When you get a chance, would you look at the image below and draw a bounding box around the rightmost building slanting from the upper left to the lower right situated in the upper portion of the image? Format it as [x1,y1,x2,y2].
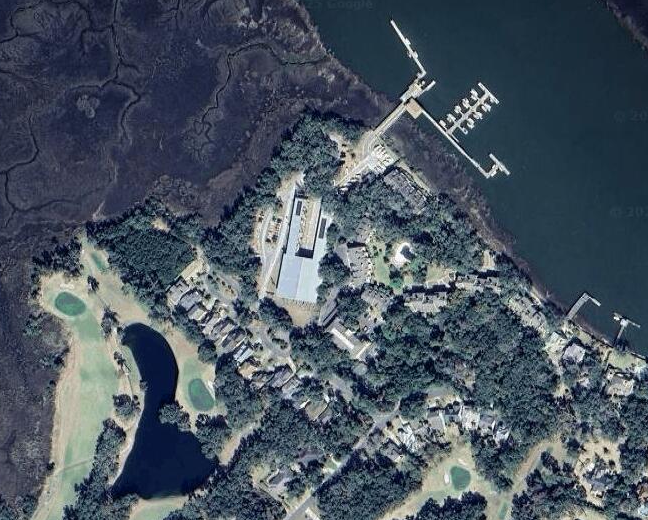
[385,168,432,206]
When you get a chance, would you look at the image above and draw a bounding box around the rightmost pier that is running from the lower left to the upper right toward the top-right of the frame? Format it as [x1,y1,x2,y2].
[445,82,499,142]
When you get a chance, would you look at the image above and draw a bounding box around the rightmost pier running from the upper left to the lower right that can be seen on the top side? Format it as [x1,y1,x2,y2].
[421,107,509,177]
